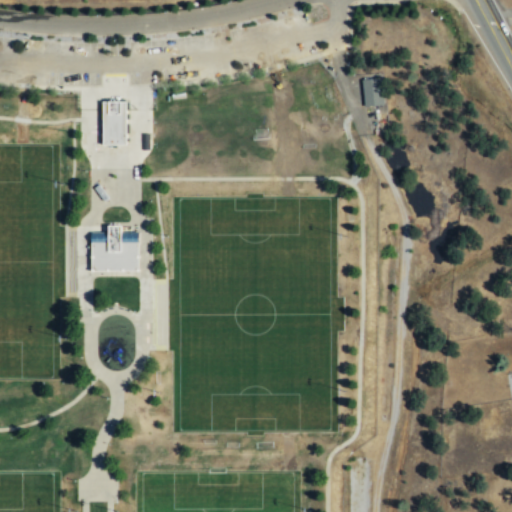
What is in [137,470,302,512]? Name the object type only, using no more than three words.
soccer field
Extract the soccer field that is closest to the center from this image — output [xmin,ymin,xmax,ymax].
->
[174,194,345,436]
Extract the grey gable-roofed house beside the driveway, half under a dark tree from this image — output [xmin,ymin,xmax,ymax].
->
[364,78,386,106]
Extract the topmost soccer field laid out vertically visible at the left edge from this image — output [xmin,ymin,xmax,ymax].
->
[0,144,60,382]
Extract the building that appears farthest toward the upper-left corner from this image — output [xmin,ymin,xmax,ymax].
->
[102,99,128,146]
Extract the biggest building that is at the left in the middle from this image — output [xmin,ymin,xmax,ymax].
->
[90,226,142,272]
